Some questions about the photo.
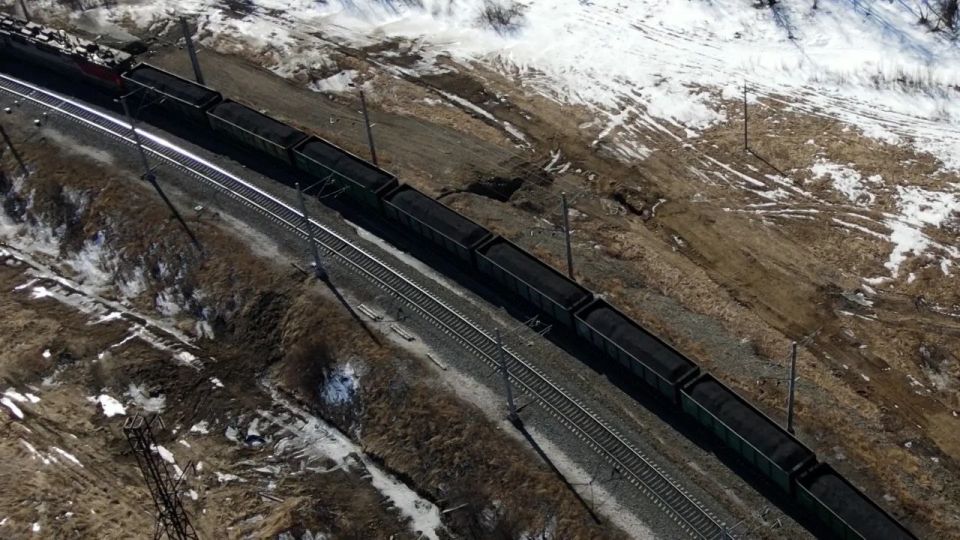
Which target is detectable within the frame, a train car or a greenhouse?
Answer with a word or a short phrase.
train car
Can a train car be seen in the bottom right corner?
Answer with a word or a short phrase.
Yes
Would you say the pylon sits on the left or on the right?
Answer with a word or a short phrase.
left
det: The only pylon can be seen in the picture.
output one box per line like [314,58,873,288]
[127,410,206,540]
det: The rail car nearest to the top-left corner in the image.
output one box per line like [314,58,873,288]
[0,12,138,91]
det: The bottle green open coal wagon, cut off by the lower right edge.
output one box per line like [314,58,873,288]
[797,463,922,540]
